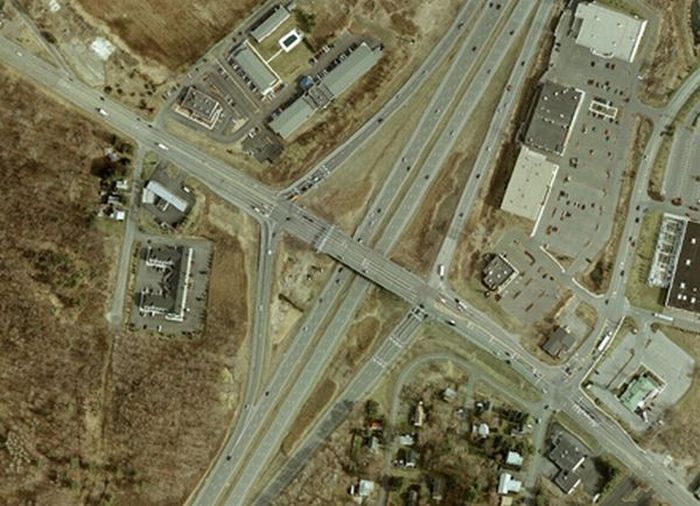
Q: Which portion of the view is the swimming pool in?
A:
top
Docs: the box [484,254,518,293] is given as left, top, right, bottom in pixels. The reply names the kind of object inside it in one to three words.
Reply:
building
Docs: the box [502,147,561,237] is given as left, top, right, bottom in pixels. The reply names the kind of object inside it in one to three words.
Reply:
building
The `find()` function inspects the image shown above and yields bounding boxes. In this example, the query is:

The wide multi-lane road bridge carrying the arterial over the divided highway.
[302,220,428,297]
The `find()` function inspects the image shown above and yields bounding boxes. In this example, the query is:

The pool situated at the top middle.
[279,29,303,52]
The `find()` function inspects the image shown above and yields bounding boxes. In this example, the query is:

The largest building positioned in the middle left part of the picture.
[139,247,193,320]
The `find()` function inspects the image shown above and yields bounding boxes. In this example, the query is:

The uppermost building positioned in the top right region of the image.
[574,1,644,63]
